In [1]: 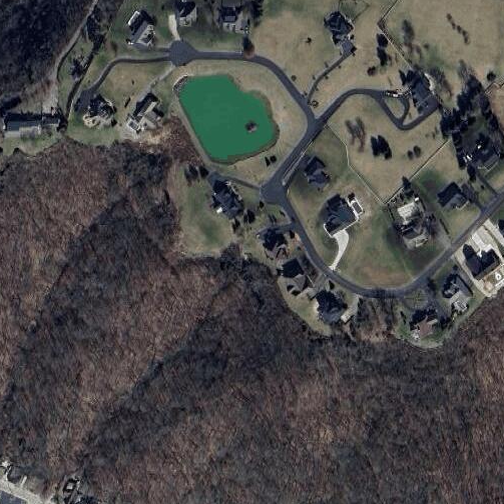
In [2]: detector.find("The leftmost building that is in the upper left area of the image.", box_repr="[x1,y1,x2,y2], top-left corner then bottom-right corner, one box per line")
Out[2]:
[5,111,62,132]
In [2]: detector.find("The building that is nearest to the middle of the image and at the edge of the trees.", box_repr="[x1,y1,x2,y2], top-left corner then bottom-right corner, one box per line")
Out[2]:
[261,233,288,259]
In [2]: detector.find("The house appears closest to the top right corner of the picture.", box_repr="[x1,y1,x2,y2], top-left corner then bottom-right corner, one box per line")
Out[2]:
[403,68,441,113]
